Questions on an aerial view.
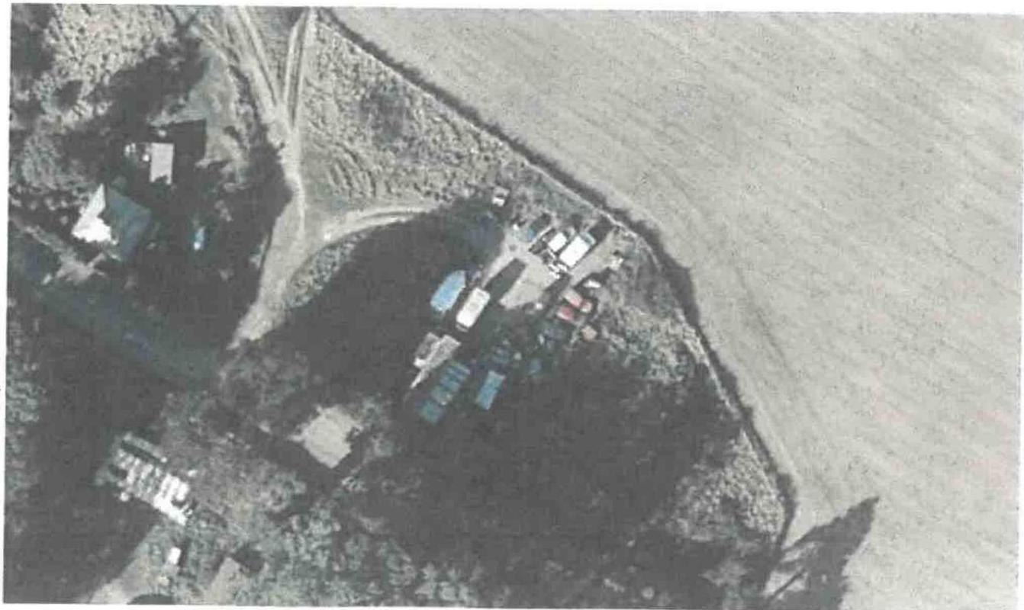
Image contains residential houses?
Yes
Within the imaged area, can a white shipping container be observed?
No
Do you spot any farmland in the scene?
Yes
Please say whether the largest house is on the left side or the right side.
left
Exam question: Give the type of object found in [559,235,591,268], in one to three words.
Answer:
building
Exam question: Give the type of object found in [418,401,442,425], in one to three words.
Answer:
shed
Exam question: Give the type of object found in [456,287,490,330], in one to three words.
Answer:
camper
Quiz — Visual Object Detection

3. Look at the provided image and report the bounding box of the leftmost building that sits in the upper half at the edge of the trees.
[69,181,150,262]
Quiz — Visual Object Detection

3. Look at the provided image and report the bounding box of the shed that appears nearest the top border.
[148,140,174,184]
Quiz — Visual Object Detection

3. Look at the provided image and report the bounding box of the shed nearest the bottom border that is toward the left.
[199,560,239,607]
